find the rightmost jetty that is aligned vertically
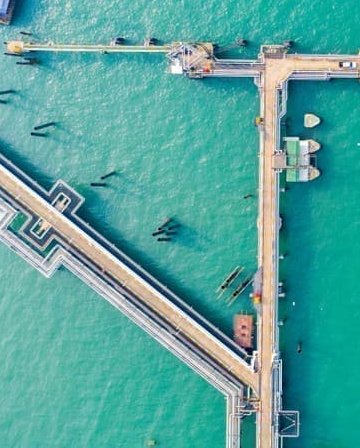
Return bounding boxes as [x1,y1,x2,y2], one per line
[252,82,304,448]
